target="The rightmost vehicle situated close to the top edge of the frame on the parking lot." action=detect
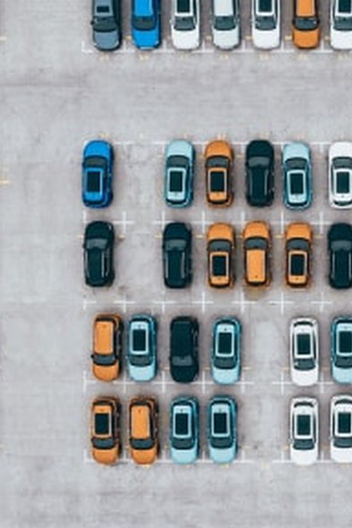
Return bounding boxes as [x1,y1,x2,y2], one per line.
[329,0,352,51]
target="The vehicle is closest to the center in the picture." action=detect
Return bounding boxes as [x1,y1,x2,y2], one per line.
[161,221,193,288]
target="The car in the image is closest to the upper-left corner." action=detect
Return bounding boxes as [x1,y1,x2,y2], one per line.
[90,0,123,51]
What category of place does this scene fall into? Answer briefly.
parking lot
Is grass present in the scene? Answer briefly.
No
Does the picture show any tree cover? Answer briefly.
No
